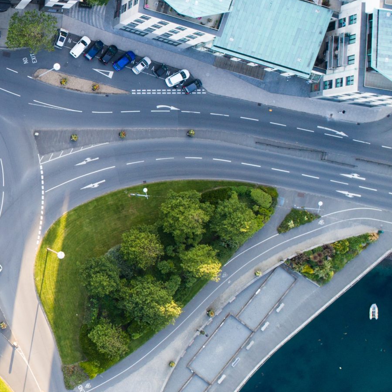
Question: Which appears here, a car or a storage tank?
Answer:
car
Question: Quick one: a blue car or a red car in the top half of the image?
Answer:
blue car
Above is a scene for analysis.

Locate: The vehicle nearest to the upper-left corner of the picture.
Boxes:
[52,27,68,50]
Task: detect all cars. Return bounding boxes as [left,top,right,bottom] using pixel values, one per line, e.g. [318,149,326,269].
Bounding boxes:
[84,39,104,61]
[164,66,191,91]
[150,61,169,82]
[68,35,92,60]
[180,76,202,96]
[111,49,135,73]
[97,44,118,66]
[131,55,152,76]
[52,27,68,50]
